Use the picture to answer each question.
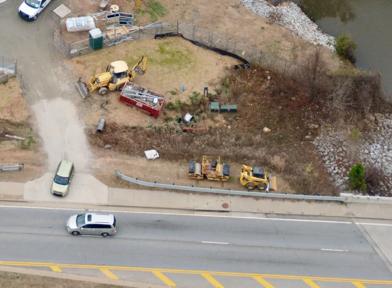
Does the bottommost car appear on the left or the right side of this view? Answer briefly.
left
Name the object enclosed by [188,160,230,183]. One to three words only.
work vehicle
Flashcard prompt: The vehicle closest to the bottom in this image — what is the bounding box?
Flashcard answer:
[66,215,117,239]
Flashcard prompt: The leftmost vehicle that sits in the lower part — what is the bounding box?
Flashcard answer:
[51,158,75,199]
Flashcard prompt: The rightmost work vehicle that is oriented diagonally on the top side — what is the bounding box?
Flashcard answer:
[79,49,144,108]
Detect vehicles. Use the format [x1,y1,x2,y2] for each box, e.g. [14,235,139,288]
[51,158,75,199]
[79,49,144,108]
[244,168,275,193]
[188,160,230,183]
[16,0,49,17]
[66,215,117,239]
